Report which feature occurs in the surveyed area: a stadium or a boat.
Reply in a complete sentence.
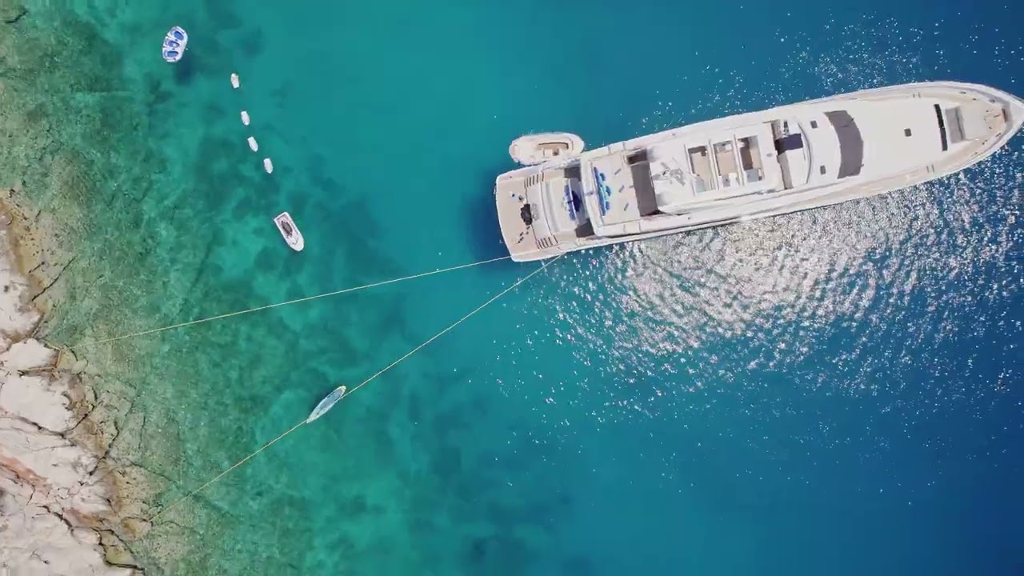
The one in the frame is a boat.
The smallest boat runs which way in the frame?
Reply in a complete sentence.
What the image shows is the smallest boat lying diagonally.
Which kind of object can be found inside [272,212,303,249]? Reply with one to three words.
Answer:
boat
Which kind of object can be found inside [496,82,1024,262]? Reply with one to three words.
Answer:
boat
